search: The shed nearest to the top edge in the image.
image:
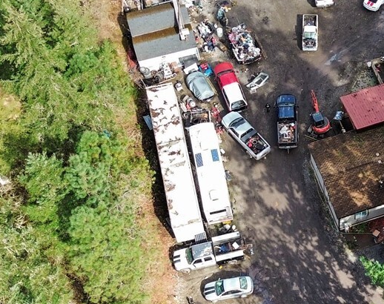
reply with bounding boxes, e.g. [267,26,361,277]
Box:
[121,0,199,75]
